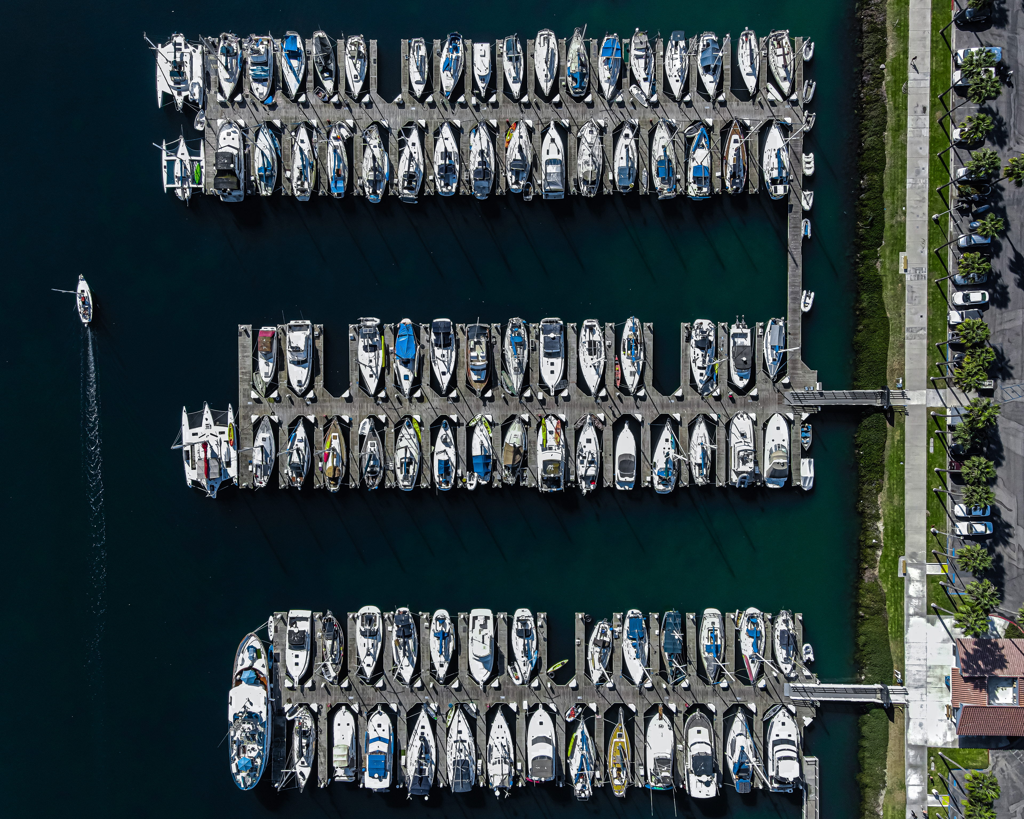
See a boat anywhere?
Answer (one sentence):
Yes, looking at the shot, I can spot a boat.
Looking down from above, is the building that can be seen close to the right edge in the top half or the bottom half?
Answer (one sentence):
The building that can be seen close to the right edge sits in the bottom half of the picture.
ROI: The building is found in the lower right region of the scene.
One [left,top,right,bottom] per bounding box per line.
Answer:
[946,636,1024,736]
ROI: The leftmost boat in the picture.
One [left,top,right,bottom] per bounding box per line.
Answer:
[50,273,95,327]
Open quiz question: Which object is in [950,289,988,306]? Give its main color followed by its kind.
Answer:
white car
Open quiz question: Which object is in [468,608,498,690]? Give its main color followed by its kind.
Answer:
white boat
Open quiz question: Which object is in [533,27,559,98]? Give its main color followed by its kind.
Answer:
white boat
